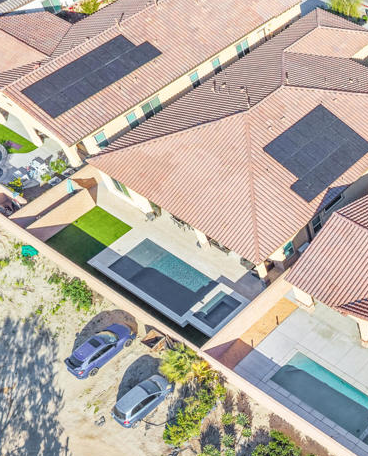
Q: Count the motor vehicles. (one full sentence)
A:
In total, there are 2 motor vehicles in the scene.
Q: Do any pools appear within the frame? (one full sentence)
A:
Yes, a pool appears in the view.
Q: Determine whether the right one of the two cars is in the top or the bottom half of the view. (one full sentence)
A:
The right one of the two cars sits in the bottom half of the picture.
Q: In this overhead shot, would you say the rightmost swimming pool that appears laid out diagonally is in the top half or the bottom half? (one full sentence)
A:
You can find the rightmost swimming pool that appears laid out diagonally in the bottom half.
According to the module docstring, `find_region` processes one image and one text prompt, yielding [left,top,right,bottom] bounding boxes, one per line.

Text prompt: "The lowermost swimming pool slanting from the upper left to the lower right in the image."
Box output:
[263,346,368,442]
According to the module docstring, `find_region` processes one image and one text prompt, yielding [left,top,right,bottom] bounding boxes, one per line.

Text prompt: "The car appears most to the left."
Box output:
[58,323,140,385]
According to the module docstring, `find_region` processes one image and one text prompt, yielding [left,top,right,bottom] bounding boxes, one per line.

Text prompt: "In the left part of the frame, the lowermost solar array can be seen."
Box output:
[15,29,164,112]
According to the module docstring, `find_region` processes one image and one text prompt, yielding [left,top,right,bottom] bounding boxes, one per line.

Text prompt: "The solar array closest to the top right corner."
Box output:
[259,99,368,207]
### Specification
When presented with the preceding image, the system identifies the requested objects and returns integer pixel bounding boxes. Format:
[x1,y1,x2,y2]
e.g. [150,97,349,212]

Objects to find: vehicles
[58,323,140,385]
[103,369,181,433]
